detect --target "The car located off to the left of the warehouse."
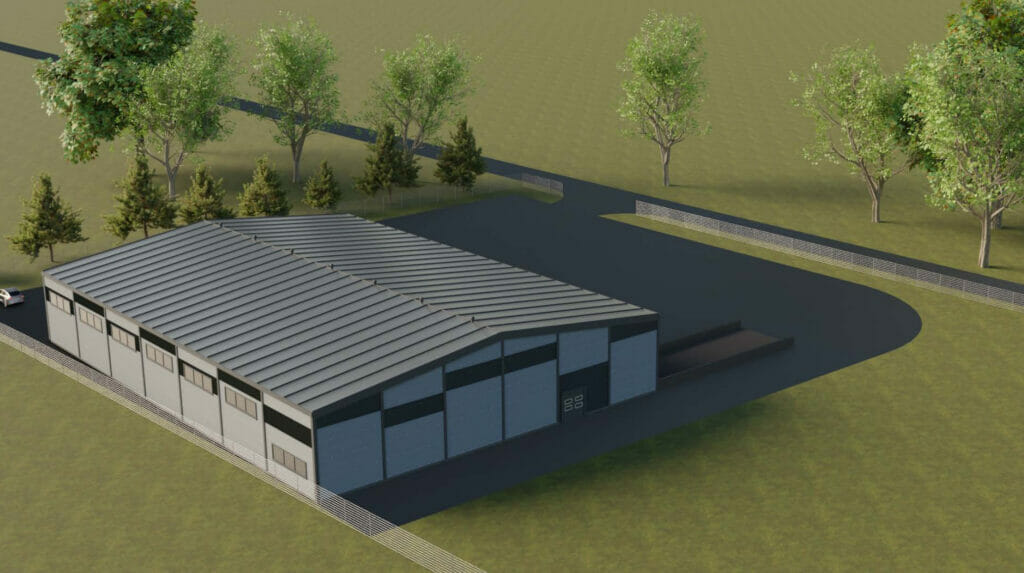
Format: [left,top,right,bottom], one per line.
[0,286,23,308]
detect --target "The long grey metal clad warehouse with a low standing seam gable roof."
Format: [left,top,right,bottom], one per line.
[41,213,661,502]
